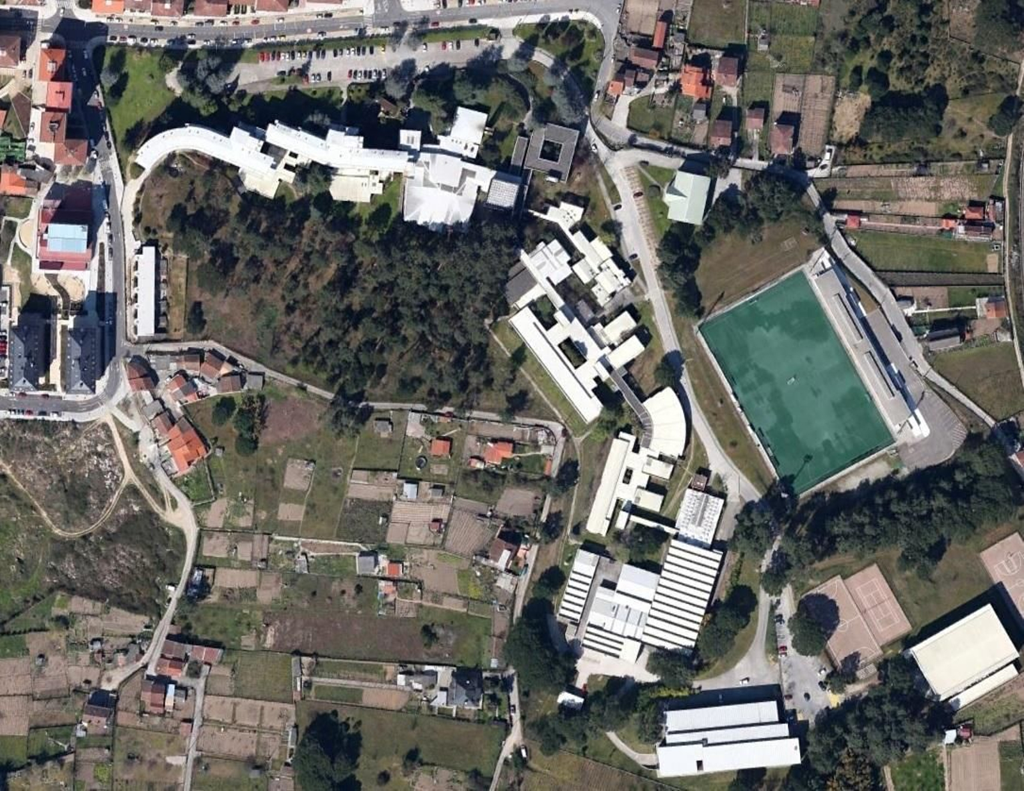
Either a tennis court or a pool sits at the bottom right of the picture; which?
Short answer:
tennis court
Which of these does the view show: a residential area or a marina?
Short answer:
residential area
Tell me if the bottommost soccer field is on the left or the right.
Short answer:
right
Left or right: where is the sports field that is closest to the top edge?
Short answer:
right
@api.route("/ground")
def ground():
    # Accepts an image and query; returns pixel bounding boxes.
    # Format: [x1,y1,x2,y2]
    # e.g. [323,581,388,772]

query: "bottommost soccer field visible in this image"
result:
[699,271,894,495]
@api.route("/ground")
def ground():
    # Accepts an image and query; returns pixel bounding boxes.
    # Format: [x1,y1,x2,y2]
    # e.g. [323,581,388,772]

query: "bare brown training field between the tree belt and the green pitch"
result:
[697,223,825,312]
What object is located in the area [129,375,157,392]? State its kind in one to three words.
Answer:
house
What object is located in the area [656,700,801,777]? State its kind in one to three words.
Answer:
building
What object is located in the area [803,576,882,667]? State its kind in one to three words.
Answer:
sports court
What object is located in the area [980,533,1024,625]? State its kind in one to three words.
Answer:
basketball court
